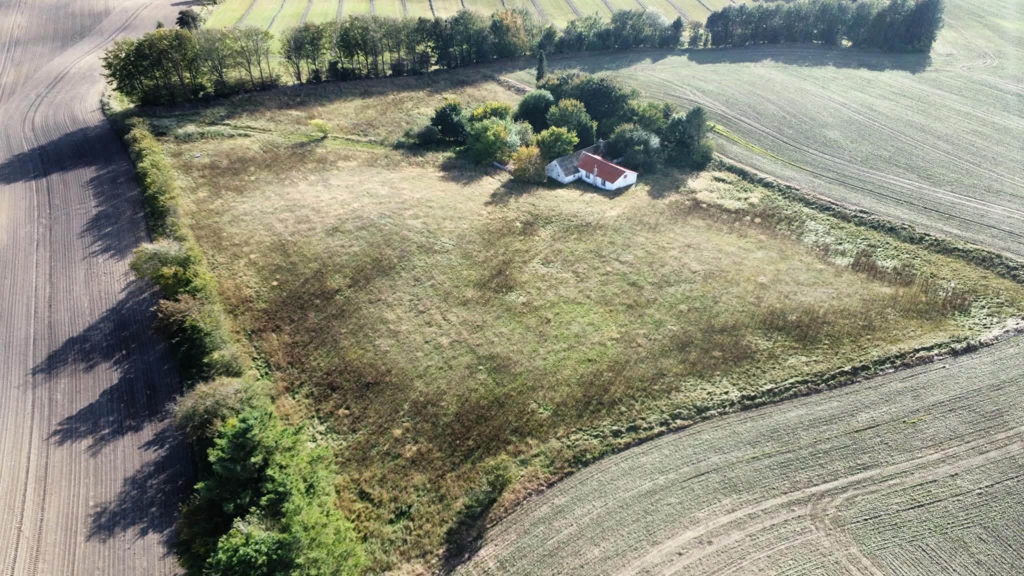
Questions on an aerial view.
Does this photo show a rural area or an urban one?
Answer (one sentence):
The land in this view is best described as rural.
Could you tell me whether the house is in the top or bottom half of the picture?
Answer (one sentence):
Seen from above, the house lies in the top half of the view.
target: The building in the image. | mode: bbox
[544,136,637,190]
